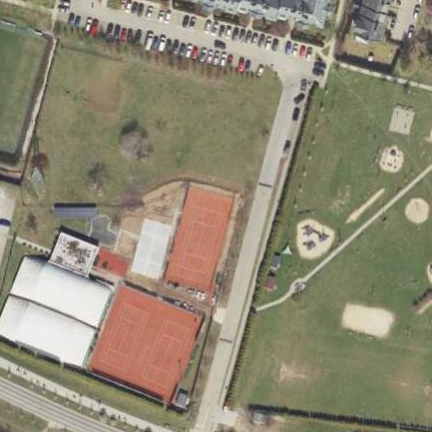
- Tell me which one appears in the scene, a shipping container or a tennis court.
tennis court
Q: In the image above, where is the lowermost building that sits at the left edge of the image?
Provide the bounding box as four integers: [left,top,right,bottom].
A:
[0,295,96,367]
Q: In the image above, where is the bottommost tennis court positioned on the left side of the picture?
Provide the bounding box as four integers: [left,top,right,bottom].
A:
[88,285,201,404]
